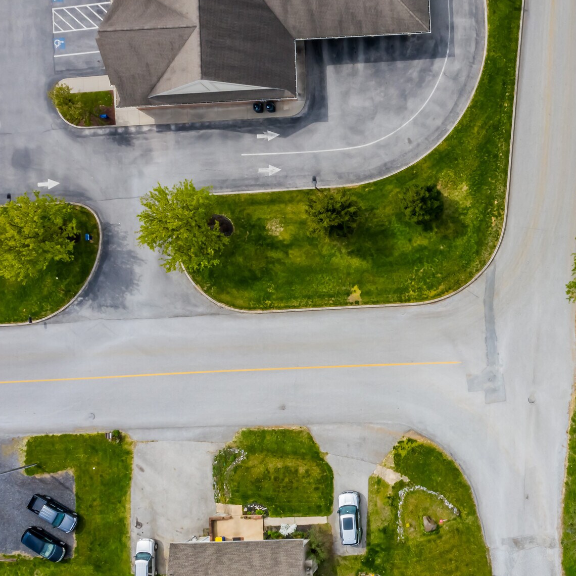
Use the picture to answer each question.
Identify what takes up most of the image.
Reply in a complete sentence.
Most of the picture is covered by paved ground.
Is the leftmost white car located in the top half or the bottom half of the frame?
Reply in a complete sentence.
The leftmost white car sits in the bottom half of the picture.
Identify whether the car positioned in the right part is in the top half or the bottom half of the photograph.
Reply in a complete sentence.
The bottom half of the photo is where the car positioned in the right part is.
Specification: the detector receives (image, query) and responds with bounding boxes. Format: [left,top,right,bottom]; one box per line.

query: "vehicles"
[25,491,81,532]
[19,523,69,561]
[337,492,362,545]
[133,537,161,576]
